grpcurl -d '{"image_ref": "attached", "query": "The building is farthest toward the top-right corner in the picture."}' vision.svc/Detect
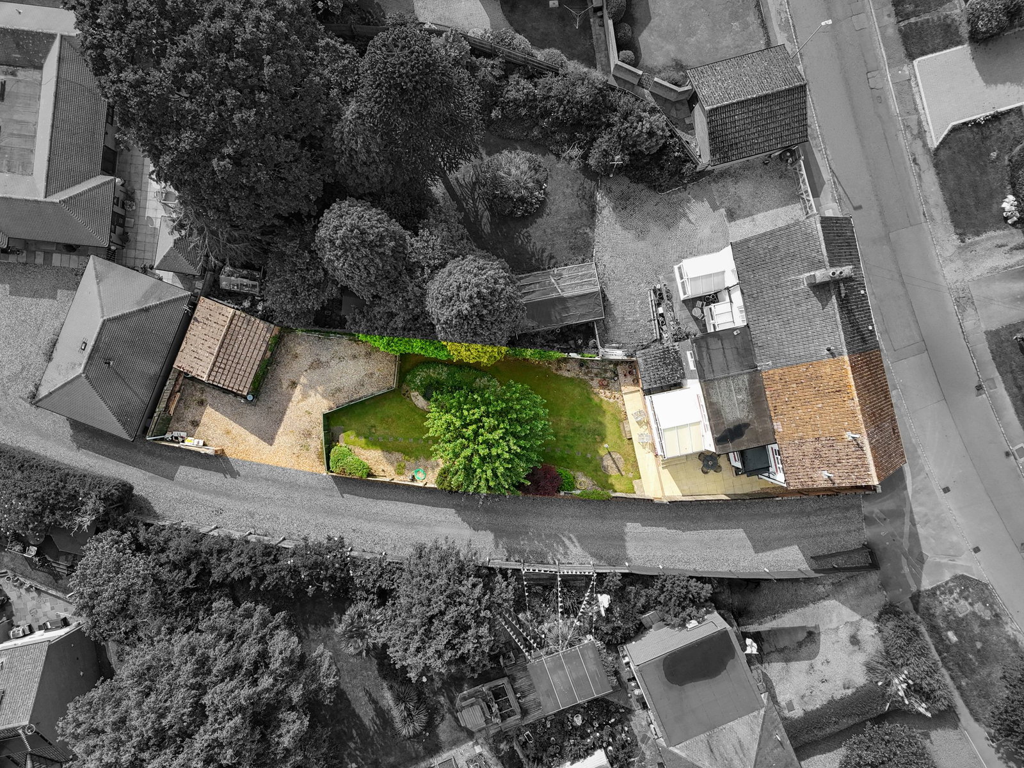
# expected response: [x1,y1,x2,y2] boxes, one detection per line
[683,44,809,174]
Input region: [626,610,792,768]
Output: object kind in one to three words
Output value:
house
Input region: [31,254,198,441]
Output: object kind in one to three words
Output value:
building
